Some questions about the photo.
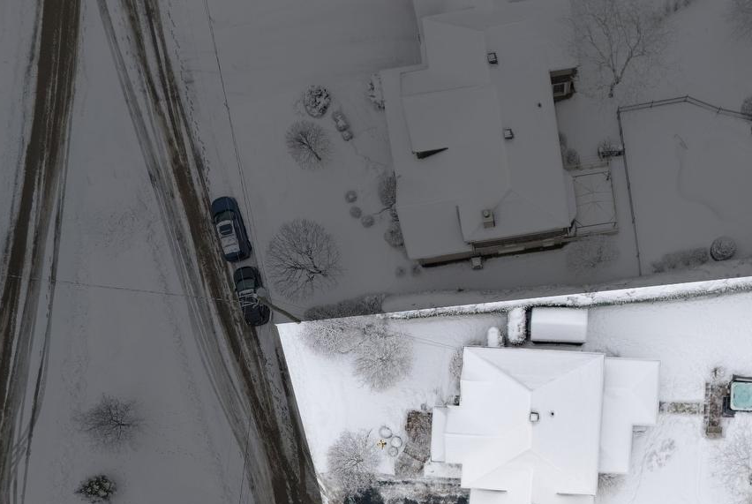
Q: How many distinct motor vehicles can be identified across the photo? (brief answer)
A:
2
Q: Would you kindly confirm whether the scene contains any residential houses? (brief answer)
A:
Yes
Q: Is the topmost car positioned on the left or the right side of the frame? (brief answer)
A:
left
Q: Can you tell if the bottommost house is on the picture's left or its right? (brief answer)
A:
right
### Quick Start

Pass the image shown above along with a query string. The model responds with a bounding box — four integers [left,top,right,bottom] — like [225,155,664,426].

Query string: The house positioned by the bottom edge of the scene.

[431,346,661,504]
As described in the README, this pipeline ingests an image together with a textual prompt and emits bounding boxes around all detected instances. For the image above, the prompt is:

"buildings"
[531,307,587,343]
[380,0,579,260]
[431,346,661,504]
